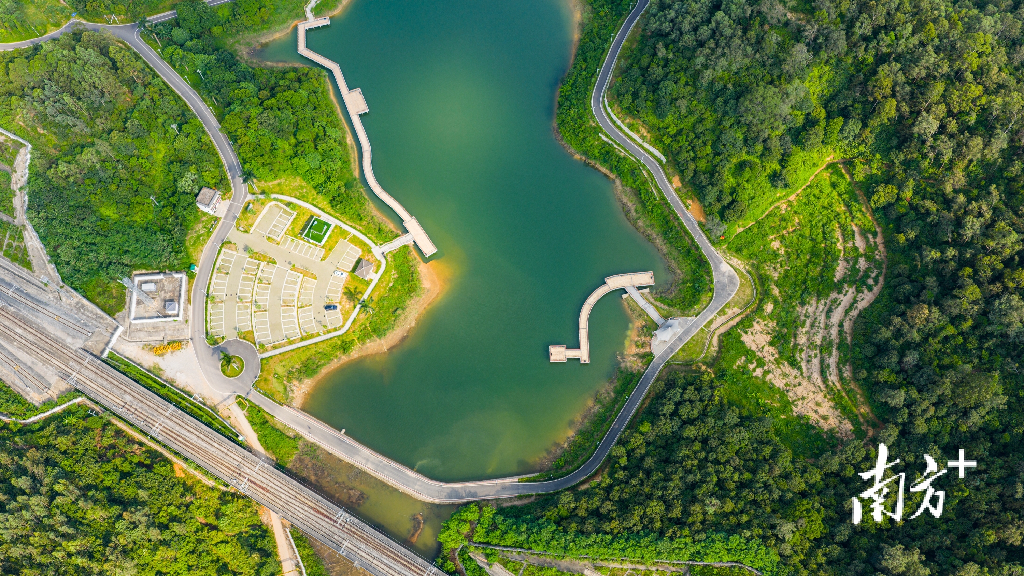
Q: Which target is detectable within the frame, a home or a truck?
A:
home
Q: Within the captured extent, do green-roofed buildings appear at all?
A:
Yes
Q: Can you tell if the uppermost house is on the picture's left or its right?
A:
left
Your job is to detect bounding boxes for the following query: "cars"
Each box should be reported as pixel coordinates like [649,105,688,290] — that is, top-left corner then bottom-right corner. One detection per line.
[324,304,337,310]
[334,270,346,277]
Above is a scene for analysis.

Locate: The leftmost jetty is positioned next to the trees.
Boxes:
[297,15,438,260]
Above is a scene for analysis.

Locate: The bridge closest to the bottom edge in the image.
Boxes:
[64,344,448,576]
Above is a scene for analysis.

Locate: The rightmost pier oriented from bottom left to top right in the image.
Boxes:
[549,270,655,365]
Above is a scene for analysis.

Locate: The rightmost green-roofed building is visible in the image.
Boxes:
[303,216,334,249]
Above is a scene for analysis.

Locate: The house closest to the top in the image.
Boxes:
[196,187,225,215]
